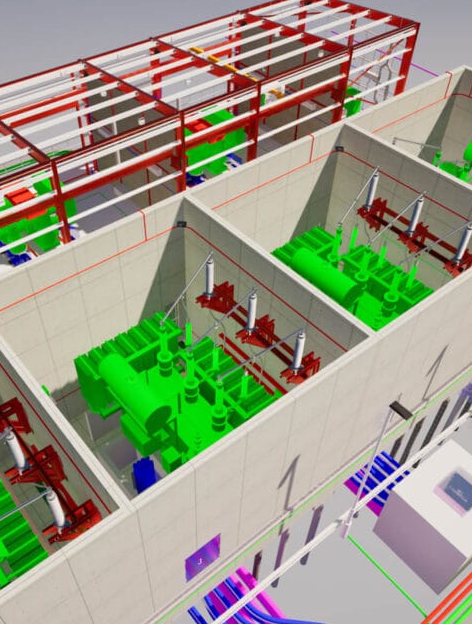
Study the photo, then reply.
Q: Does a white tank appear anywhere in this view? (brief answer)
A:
No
